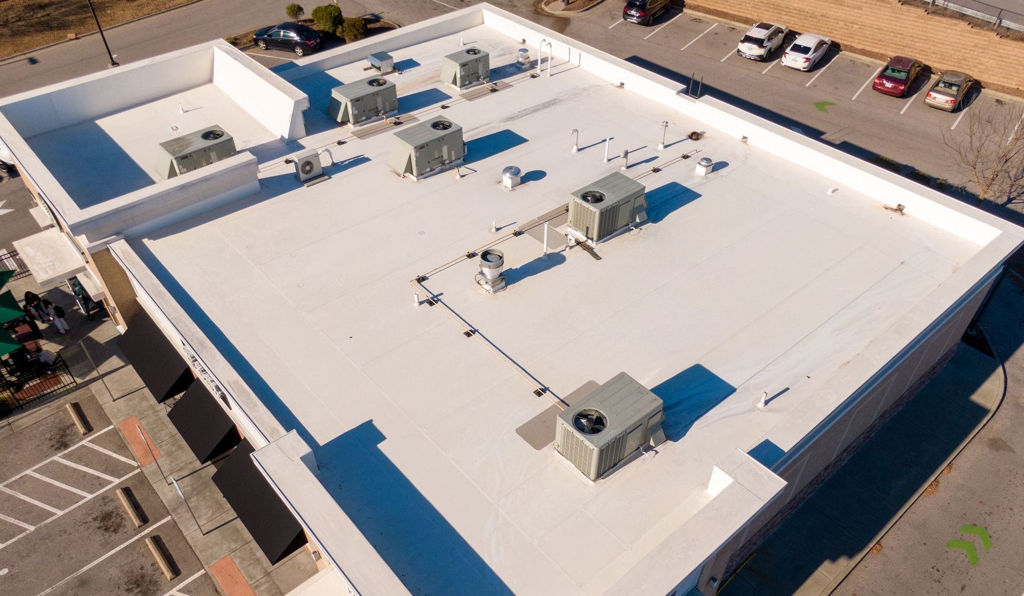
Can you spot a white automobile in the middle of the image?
No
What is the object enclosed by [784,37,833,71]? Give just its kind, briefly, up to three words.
car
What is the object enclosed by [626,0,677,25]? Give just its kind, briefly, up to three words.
car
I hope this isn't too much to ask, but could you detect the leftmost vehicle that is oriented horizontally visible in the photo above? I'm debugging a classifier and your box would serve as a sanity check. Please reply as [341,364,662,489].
[252,24,324,56]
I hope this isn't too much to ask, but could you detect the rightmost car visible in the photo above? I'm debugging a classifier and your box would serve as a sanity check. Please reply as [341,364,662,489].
[925,73,976,111]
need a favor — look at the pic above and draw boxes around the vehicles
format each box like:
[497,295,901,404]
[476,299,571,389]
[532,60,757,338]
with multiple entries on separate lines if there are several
[874,58,924,96]
[784,37,833,71]
[925,73,976,111]
[740,22,790,60]
[252,24,324,56]
[626,0,677,25]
